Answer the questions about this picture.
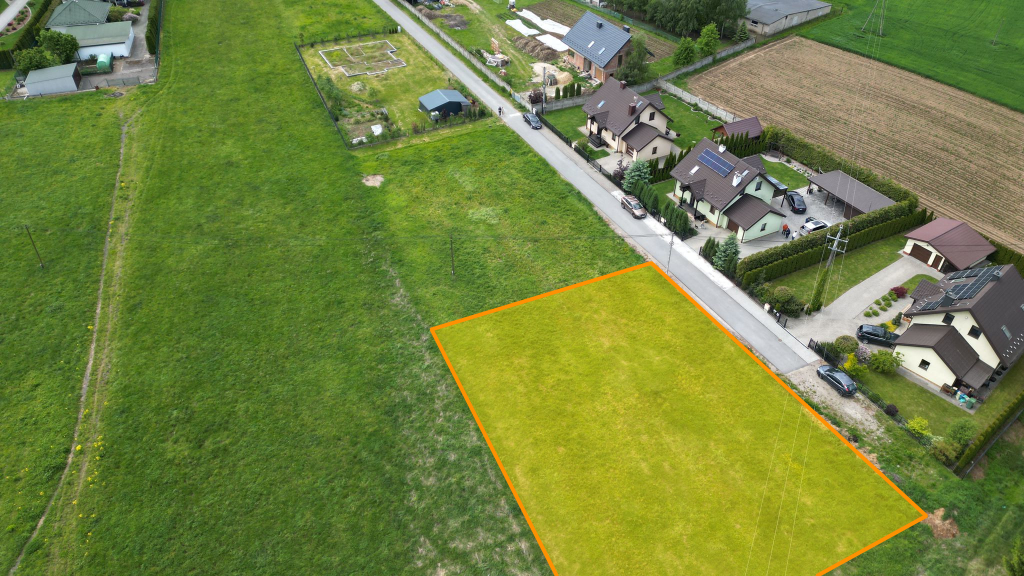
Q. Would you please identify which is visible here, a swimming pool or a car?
car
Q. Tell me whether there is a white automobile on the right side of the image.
Yes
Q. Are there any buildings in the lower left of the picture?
No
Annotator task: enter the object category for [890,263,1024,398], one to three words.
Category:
house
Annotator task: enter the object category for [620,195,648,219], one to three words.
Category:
car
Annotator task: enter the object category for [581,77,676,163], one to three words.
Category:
house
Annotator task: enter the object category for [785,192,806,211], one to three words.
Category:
car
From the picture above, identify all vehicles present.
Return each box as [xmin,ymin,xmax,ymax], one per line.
[857,323,901,350]
[785,192,806,211]
[522,113,542,129]
[817,364,861,399]
[620,195,648,219]
[800,214,831,236]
